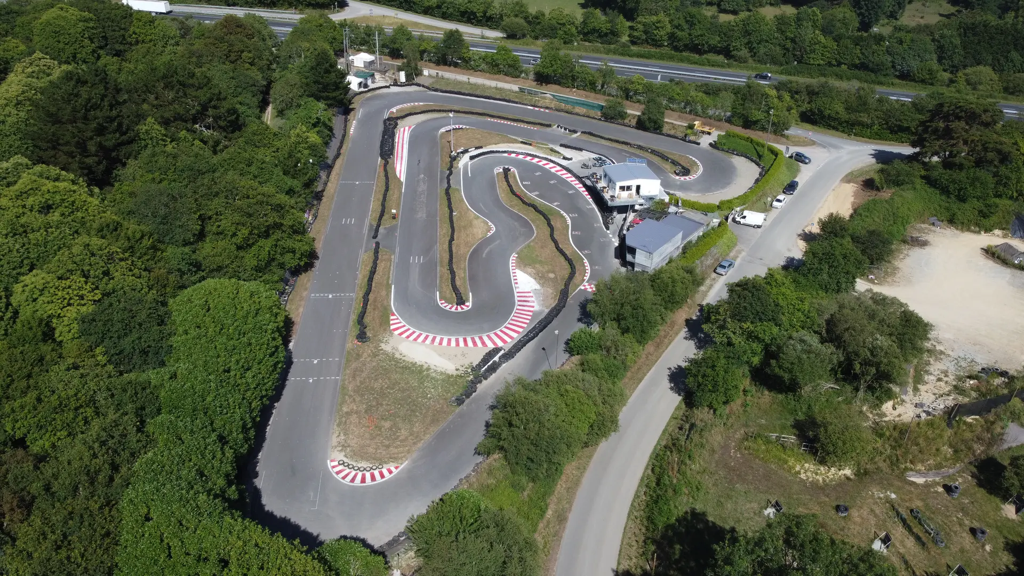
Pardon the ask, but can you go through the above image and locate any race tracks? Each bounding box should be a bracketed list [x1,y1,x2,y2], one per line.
[254,91,738,560]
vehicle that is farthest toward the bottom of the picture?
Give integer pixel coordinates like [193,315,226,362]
[714,259,736,273]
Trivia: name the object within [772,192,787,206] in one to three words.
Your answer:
car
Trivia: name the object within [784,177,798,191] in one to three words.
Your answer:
car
